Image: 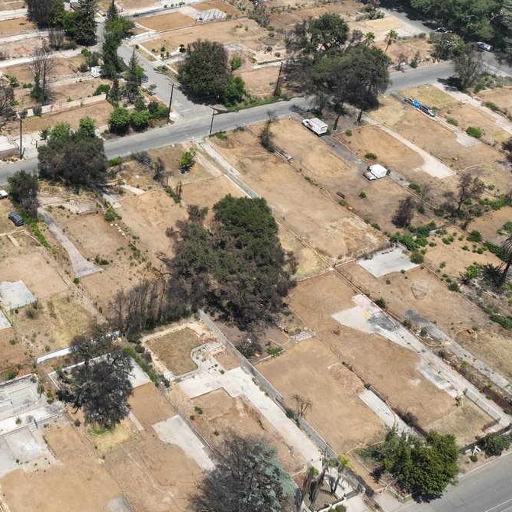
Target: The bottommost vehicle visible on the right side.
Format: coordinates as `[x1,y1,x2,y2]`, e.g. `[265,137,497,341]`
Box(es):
[366,159,391,178]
